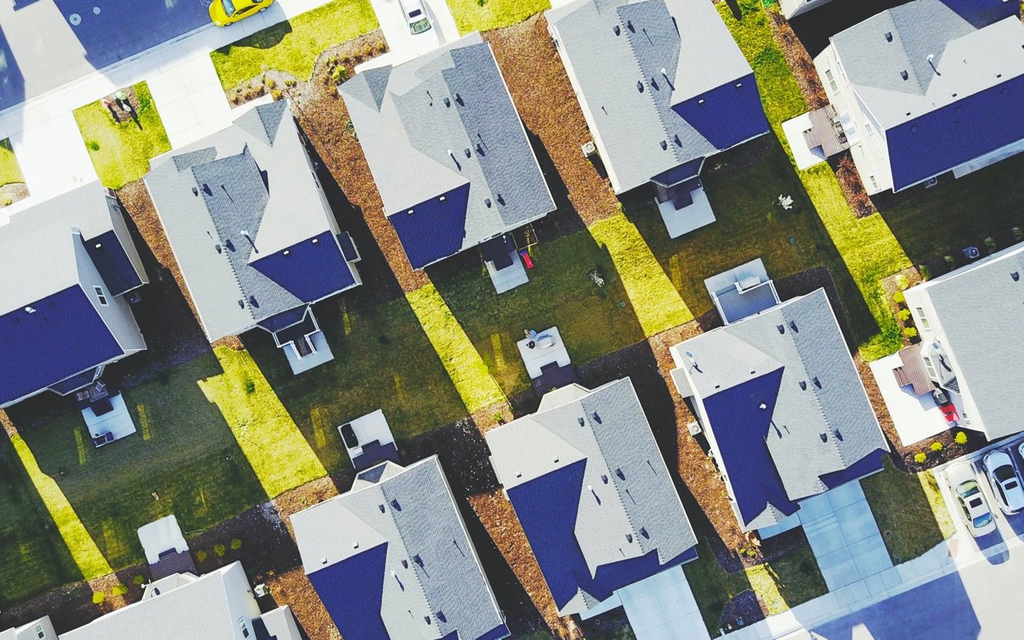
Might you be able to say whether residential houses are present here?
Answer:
Yes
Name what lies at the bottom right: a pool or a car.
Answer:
car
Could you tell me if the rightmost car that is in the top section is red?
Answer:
No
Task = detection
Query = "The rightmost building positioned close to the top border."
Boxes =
[814,0,1024,195]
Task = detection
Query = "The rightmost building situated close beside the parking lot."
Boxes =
[903,243,1024,442]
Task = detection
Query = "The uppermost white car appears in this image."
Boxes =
[400,0,447,51]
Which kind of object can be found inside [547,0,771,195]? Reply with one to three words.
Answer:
house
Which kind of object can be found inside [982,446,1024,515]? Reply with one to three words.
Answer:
car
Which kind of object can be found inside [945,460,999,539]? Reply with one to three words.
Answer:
car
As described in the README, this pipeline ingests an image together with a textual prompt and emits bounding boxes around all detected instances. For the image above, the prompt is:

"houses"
[547,0,771,195]
[338,30,556,271]
[57,561,308,640]
[0,615,57,640]
[814,0,1024,195]
[667,285,891,529]
[903,243,1024,442]
[483,375,699,616]
[291,448,514,640]
[0,176,148,410]
[780,0,833,18]
[142,100,361,344]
